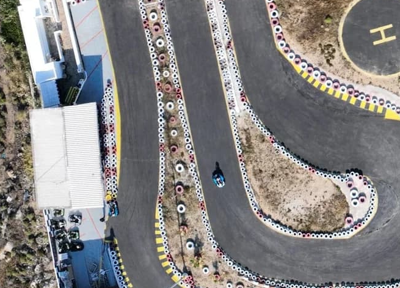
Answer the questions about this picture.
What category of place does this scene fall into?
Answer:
sports ground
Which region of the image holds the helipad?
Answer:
top right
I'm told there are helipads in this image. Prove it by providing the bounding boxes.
[343,0,400,72]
